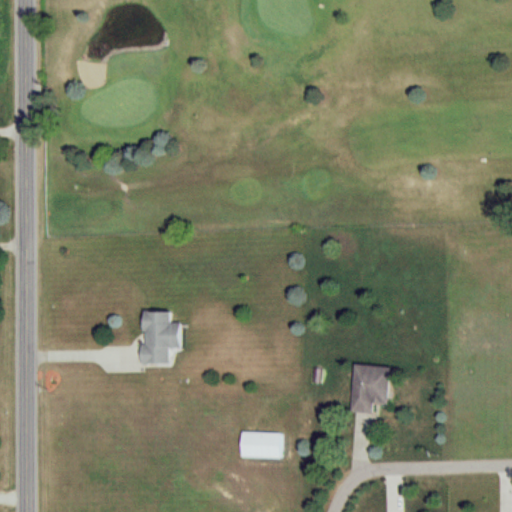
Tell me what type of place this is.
golf course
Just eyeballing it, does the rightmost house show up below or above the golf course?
below it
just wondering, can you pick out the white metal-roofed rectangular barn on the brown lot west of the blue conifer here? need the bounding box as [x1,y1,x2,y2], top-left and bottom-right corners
[240,432,284,460]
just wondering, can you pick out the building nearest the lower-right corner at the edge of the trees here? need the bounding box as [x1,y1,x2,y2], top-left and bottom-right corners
[352,364,389,414]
